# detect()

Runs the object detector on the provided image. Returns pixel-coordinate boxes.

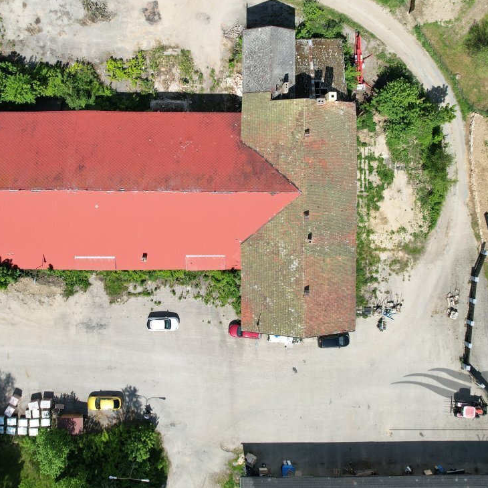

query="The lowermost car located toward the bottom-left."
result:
[88,394,121,411]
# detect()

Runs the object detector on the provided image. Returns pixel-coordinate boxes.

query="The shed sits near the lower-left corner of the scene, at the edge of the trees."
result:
[57,413,85,434]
